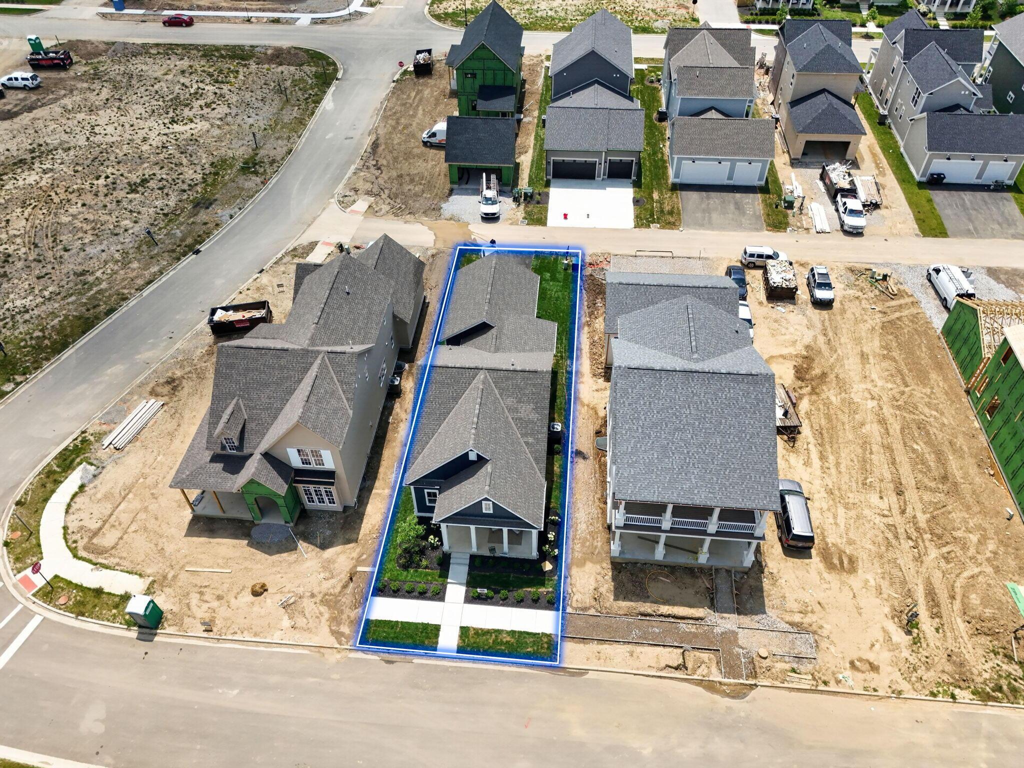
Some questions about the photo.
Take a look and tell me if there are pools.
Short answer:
No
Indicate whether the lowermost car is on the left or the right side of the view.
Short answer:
right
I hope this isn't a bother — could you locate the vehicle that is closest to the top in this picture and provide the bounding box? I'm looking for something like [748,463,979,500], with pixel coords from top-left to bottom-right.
[162,14,195,27]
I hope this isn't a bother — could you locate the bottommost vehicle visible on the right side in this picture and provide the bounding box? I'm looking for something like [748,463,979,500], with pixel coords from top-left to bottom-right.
[778,479,818,547]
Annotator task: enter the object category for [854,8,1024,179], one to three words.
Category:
house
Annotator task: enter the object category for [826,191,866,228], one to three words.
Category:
truck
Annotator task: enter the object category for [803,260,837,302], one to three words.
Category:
car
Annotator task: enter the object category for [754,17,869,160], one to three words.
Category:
house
